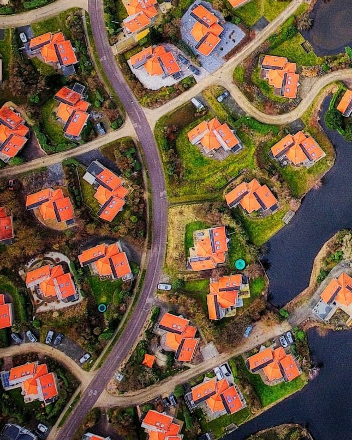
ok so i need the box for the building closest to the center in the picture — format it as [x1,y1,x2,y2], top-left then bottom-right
[189,217,228,268]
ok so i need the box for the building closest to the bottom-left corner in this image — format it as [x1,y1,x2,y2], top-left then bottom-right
[2,411,41,440]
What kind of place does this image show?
residential area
